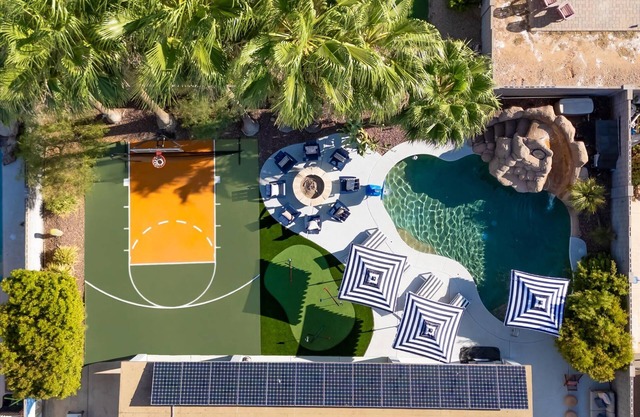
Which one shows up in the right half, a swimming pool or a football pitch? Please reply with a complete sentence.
The feature located in the right half is a swimming pool.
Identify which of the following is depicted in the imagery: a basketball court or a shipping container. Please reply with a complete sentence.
Looking from above, you can make out a basketball court.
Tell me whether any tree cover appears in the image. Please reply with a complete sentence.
Yes, there is tree cover in the image.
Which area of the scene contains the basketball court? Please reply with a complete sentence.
The basketball court sits in the left section of the image.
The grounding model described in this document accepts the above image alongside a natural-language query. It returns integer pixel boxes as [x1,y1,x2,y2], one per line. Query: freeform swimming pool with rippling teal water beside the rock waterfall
[371,144,582,344]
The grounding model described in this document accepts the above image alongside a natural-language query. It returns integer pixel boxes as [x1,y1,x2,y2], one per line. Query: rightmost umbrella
[504,270,570,336]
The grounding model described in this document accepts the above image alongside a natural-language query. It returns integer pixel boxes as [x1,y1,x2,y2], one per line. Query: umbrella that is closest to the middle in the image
[338,243,408,313]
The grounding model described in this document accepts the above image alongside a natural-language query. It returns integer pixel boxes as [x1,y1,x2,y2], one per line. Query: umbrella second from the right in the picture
[392,291,463,361]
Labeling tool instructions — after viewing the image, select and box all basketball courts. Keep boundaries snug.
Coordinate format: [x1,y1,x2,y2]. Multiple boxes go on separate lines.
[83,138,261,366]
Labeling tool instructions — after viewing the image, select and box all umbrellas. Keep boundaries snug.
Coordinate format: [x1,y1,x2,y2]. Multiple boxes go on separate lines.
[504,270,570,336]
[392,291,463,361]
[338,243,408,313]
